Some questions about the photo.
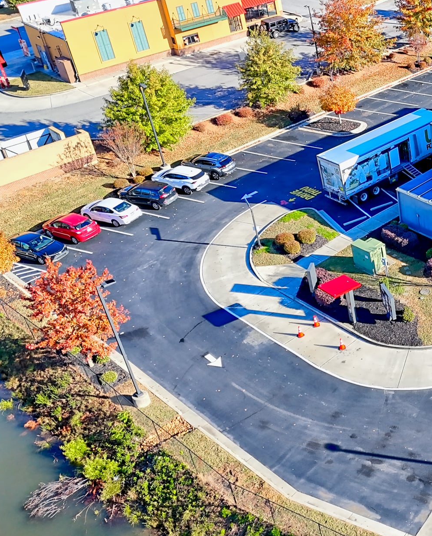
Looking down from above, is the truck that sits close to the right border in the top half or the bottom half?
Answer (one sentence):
The truck that sits close to the right border sits in the top half of the picture.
